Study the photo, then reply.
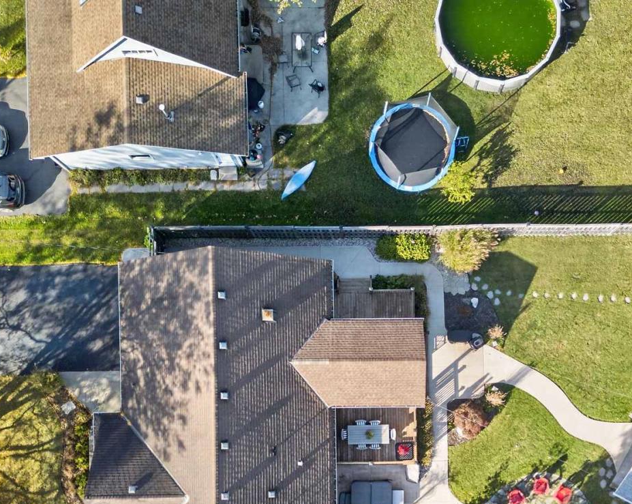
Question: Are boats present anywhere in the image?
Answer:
Yes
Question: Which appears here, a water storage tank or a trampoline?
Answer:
trampoline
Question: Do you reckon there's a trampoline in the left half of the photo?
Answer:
No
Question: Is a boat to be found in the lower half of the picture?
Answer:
No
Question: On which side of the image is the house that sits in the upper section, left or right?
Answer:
left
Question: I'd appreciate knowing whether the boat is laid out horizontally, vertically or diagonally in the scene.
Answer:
diagonally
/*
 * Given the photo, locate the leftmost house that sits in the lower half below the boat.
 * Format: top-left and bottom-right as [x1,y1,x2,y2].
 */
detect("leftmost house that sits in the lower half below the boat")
[83,245,427,504]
